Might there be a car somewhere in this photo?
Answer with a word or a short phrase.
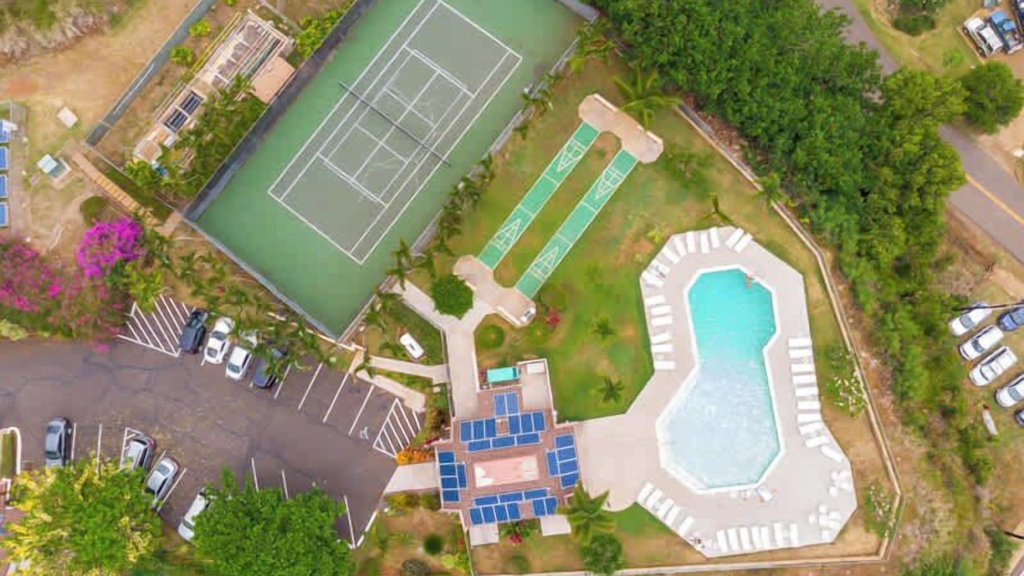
Yes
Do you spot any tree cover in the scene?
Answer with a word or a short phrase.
Yes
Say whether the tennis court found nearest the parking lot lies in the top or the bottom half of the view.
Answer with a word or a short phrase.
top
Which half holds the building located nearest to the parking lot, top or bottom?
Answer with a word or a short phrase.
bottom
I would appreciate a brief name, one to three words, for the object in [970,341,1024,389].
vehicle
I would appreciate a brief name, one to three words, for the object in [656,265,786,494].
swimming pool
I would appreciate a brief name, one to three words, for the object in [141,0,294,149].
shed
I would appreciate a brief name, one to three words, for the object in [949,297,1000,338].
car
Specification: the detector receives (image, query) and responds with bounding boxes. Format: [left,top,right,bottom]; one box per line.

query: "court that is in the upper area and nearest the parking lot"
[198,0,584,335]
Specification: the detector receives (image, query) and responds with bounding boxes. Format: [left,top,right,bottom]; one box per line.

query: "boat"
[985,406,997,435]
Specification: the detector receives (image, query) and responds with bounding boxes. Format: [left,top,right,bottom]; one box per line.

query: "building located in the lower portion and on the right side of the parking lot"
[434,385,583,530]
